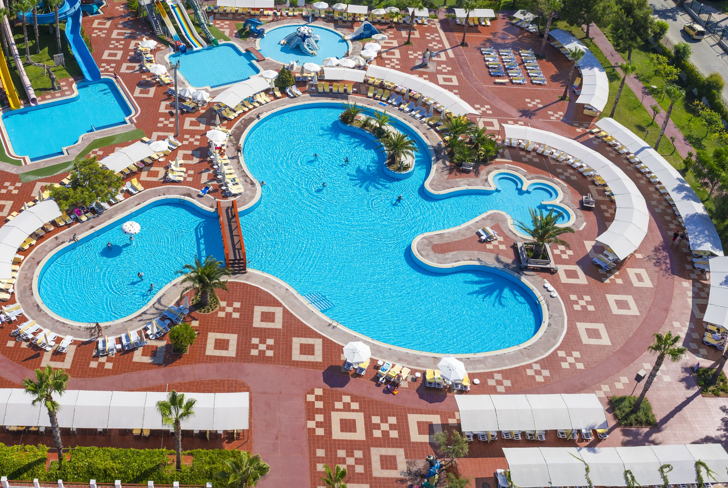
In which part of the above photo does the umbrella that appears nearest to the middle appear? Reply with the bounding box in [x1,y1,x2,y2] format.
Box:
[342,343,372,372]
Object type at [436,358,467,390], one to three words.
umbrella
